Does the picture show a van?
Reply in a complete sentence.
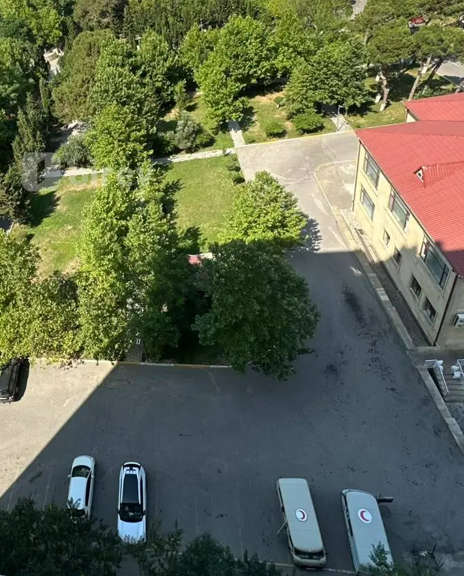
Yes, there is a van in the image.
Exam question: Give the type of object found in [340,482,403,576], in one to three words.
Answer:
van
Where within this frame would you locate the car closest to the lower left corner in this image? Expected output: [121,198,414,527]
[65,460,95,524]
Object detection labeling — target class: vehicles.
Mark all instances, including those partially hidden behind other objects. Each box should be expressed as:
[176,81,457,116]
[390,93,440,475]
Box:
[279,471,333,570]
[340,482,403,576]
[0,358,24,406]
[115,464,146,543]
[65,460,95,524]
